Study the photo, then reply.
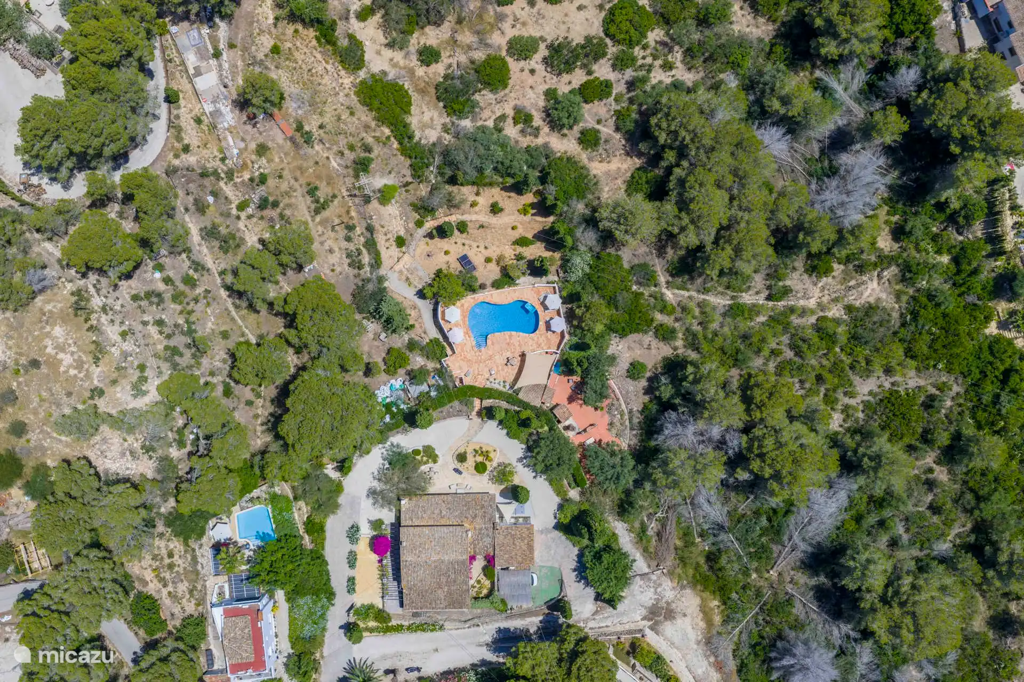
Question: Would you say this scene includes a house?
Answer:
Yes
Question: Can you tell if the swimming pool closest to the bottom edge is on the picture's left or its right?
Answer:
left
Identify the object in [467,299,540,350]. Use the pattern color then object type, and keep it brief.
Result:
blue swimming pool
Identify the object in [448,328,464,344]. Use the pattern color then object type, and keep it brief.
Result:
white umbrella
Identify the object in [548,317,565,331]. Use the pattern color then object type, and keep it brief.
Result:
white umbrella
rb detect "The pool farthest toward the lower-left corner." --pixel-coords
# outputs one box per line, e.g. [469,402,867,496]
[237,506,276,543]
